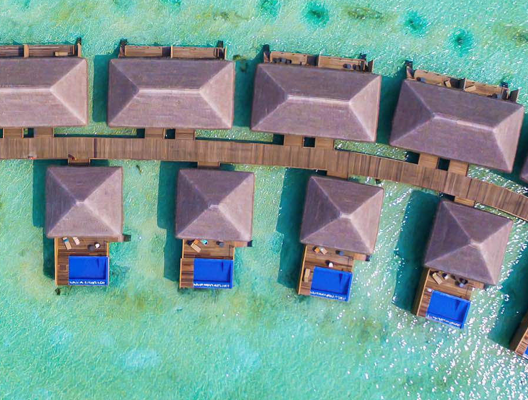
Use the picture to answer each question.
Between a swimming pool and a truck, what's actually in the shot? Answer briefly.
swimming pool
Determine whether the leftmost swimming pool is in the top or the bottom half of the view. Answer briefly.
bottom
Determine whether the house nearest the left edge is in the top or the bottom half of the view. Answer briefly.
top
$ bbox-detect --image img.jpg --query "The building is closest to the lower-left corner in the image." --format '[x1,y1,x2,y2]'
[47,167,133,288]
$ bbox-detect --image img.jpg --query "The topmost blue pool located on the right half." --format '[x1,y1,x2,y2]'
[310,266,352,301]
